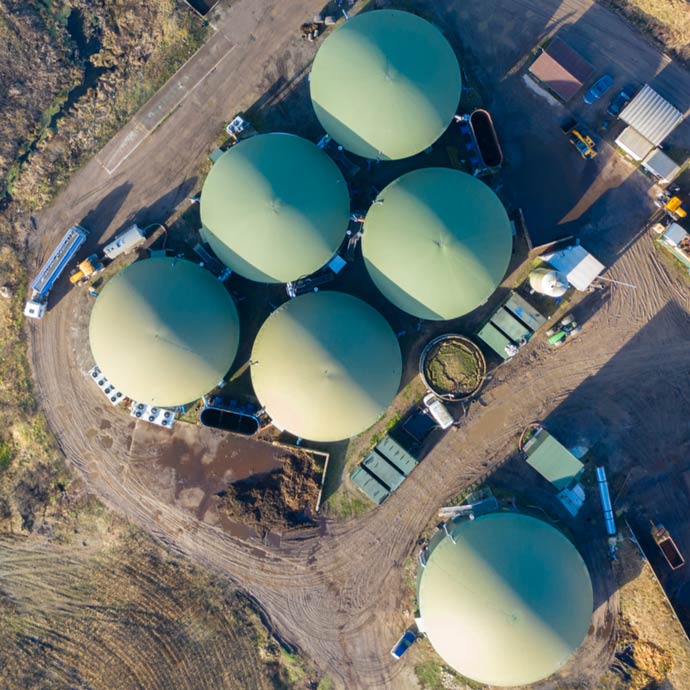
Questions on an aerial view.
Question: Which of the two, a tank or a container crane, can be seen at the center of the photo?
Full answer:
You can see a tank at the center of the photo.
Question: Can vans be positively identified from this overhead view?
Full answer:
Yes, there's a van down there.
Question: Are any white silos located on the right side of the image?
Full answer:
Yes, looking on the right side of the image, one can make out a white silo.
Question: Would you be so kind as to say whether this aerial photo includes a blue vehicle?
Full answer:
Yes, the frame does contain a blue vehicle.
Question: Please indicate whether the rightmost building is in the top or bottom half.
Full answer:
The top half of the photo is where the rightmost building is.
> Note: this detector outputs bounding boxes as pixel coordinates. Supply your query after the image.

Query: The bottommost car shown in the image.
[389,627,416,658]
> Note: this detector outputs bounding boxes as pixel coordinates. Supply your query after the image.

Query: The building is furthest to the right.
[644,148,680,181]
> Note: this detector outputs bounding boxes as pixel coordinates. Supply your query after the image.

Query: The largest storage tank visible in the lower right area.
[413,505,594,688]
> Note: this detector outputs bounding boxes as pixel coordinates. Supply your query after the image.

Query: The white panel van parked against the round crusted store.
[420,393,456,431]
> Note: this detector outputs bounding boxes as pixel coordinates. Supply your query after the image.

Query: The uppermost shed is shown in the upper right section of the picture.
[526,36,596,103]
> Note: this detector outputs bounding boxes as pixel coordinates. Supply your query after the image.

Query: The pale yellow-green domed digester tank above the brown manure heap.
[246,289,402,442]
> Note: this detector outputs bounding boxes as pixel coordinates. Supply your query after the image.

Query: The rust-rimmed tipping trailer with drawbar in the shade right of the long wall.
[651,518,685,569]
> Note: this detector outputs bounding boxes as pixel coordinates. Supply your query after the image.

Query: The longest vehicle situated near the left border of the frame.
[24,224,91,319]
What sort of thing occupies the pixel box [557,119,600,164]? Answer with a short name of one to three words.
work vehicle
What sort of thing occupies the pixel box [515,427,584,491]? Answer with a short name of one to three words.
shed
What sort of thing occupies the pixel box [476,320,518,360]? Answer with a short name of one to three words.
shipping container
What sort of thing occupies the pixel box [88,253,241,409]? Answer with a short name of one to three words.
storage tank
